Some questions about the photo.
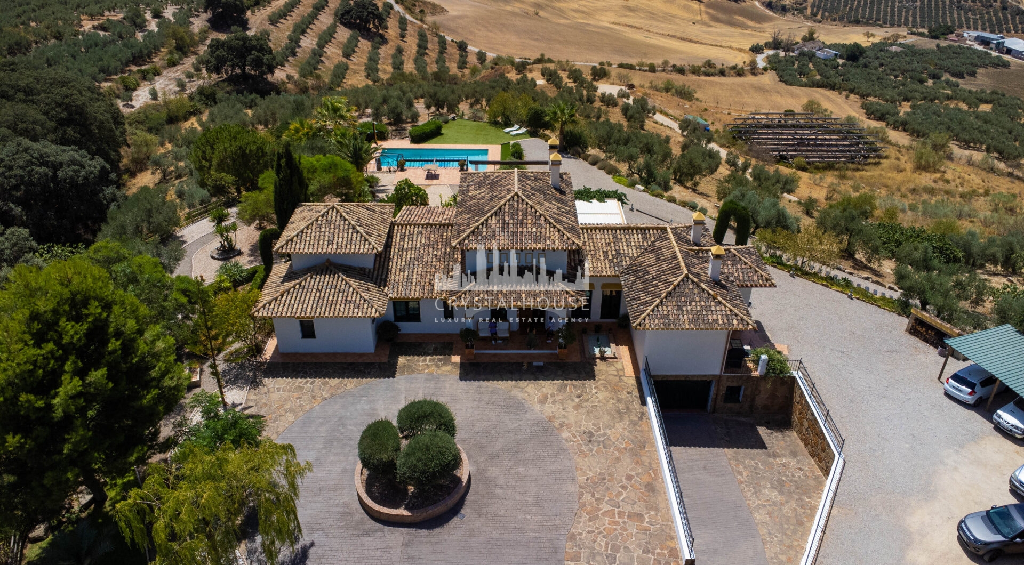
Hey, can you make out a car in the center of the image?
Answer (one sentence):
No, no car appears in the center of the image.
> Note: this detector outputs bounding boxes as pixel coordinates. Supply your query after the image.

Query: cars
[988,390,1024,438]
[954,490,1024,557]
[947,362,1007,407]
[1011,456,1024,490]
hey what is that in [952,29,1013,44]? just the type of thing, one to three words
barn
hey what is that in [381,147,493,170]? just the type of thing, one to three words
swimming pool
